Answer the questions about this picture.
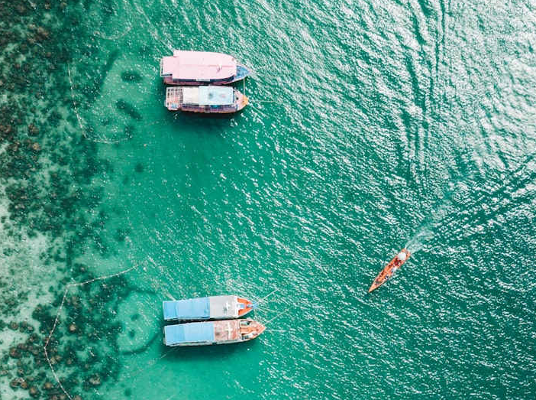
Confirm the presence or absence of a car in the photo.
No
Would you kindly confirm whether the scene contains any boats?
Yes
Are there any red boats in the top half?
No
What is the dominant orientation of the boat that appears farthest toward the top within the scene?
horizontally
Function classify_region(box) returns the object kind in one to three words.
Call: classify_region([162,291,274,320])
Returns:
boat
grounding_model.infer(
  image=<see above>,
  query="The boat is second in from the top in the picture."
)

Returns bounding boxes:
[163,86,262,120]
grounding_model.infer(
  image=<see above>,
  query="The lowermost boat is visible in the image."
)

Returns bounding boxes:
[162,313,287,354]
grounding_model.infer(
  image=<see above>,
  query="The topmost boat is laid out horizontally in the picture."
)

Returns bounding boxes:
[161,42,273,96]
